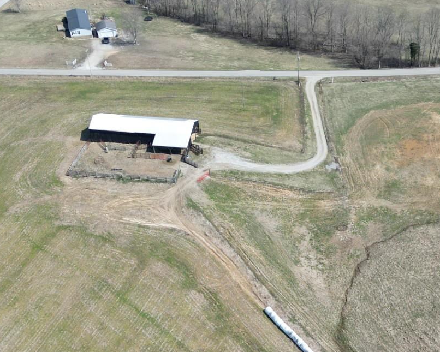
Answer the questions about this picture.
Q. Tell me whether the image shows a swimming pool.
No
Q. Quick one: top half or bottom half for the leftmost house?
top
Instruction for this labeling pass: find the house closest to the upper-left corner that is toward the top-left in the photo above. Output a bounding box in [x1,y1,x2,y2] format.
[65,6,93,41]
